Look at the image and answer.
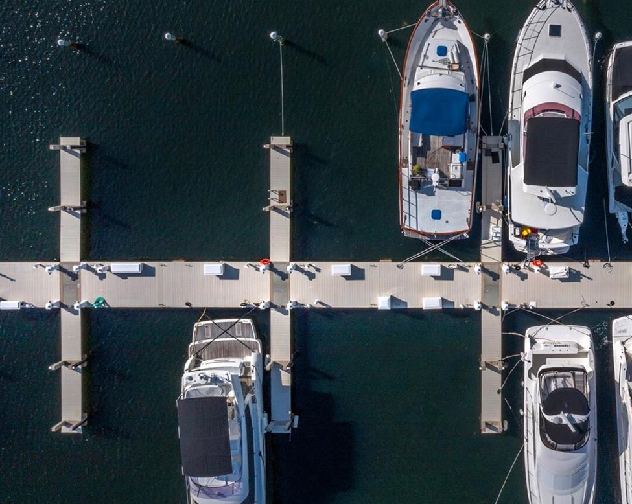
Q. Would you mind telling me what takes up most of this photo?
water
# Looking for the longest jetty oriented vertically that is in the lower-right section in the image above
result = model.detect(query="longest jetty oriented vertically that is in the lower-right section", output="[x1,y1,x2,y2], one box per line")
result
[481,309,501,433]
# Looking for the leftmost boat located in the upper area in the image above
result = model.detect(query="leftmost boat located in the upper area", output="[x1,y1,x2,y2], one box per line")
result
[398,0,480,241]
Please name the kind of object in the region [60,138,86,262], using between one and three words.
pier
